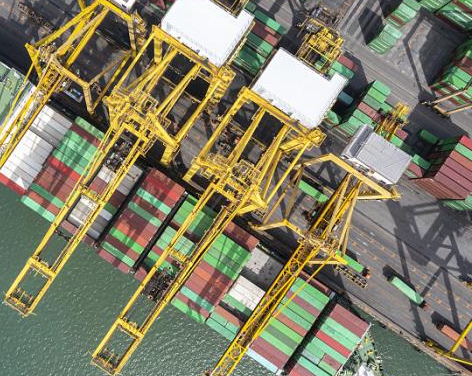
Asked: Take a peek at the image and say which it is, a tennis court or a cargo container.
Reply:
cargo container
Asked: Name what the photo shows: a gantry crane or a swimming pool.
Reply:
gantry crane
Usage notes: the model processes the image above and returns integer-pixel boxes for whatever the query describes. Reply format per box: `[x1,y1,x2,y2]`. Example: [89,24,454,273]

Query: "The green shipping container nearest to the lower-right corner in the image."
[387,274,422,303]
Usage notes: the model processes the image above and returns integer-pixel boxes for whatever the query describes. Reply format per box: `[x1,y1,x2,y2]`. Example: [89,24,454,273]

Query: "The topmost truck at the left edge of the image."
[19,0,56,30]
